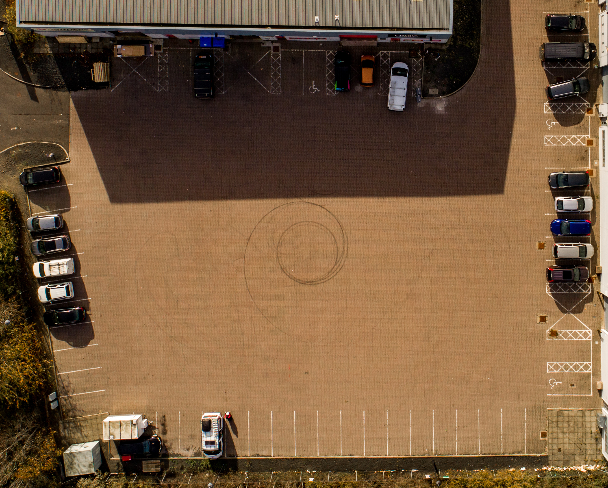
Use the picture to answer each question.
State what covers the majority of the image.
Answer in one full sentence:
What you mostly see from above here is paved ground.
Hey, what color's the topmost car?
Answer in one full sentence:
From above, the topmost car appears black.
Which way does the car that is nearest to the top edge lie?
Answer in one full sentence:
I'd say the car that is nearest to the top edge is aligned from left to right in the picture.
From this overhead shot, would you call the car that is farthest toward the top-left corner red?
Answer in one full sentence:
No, the car that is farthest toward the top-left corner is black.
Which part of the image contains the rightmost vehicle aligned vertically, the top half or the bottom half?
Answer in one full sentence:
It is in the top half that the rightmost vehicle aligned vertically appears.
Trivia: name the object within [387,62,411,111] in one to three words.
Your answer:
vehicle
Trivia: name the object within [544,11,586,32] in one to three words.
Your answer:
car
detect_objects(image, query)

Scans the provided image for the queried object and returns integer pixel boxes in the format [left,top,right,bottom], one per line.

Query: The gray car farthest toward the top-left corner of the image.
[27,214,65,234]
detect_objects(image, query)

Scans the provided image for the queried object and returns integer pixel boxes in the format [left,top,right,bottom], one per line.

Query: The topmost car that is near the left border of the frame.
[20,166,62,187]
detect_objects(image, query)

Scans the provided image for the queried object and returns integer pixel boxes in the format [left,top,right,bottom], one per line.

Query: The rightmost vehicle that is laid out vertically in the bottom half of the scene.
[200,411,223,459]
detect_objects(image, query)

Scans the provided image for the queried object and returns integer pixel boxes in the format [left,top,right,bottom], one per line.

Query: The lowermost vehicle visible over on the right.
[545,263,589,284]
